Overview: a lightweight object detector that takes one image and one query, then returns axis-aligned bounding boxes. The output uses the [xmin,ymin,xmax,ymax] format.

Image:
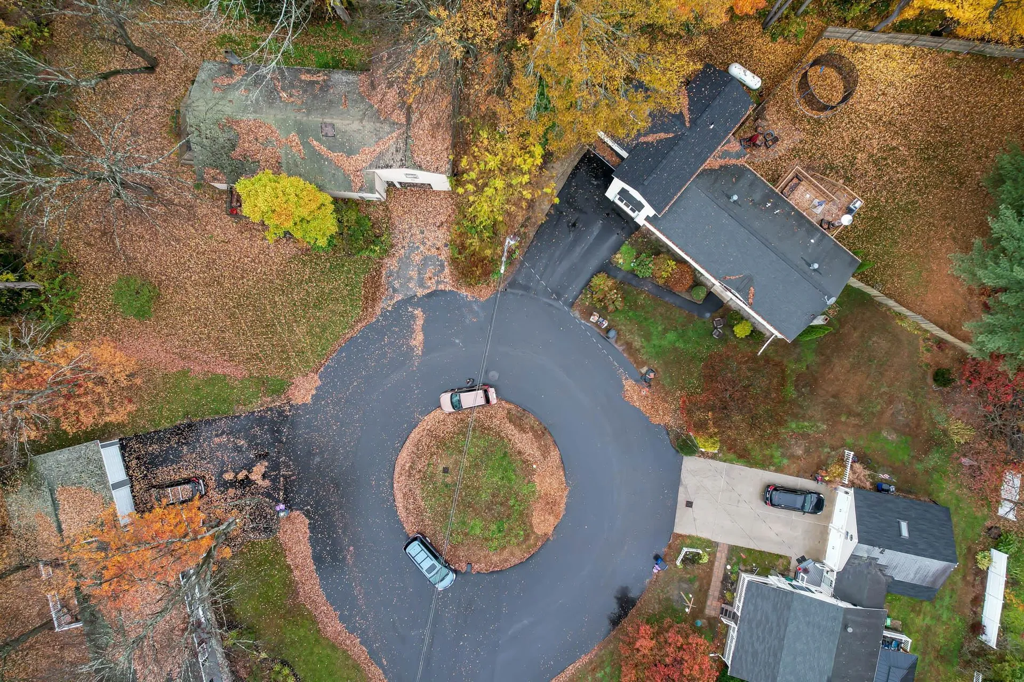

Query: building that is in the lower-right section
[693,486,960,682]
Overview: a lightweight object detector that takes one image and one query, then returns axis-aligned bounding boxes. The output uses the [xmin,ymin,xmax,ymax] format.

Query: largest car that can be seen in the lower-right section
[762,484,825,516]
